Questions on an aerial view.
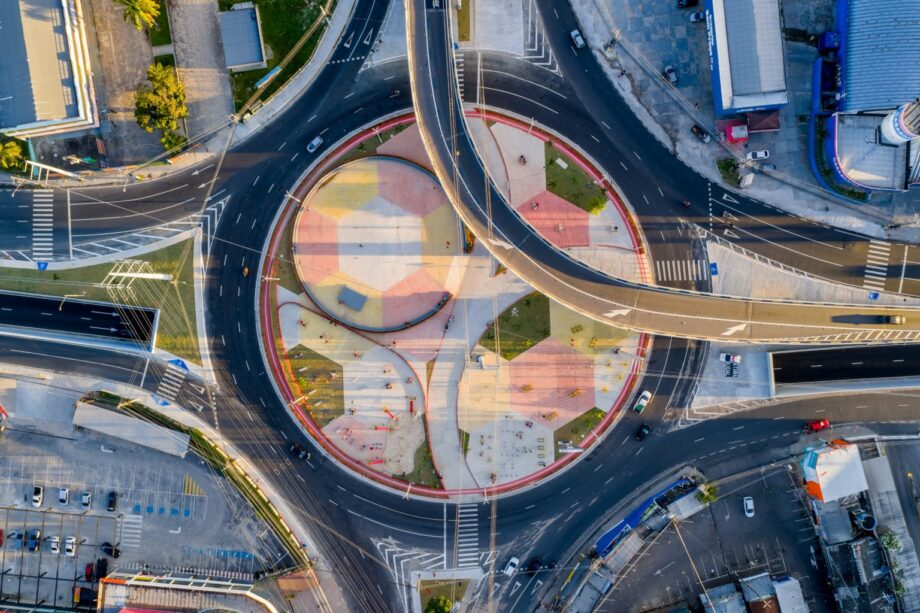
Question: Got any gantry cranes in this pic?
No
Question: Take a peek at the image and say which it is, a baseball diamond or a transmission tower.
transmission tower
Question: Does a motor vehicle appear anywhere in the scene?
Yes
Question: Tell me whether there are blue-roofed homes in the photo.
Yes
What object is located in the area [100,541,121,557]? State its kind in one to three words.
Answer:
car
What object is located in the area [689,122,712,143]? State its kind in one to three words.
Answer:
vehicle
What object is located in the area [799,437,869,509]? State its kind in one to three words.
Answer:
building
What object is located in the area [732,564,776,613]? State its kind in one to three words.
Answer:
house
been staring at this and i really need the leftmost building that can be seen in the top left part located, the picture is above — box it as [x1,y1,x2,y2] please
[0,0,102,145]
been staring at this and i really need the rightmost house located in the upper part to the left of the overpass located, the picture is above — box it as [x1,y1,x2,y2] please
[221,2,270,73]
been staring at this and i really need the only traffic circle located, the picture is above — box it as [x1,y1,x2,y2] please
[255,102,655,502]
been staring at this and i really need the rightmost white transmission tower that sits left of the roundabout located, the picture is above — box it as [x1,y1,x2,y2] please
[104,253,175,289]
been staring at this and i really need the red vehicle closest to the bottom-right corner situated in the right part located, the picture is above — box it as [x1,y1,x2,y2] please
[804,419,830,433]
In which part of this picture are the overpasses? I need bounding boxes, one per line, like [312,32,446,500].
[405,0,920,342]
